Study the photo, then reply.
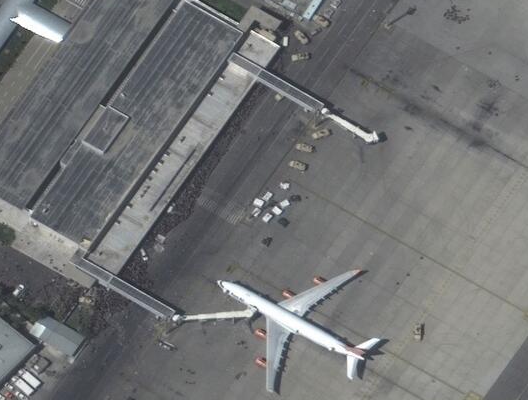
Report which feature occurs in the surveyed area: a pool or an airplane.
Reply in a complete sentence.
Of the two, only an airplane appears.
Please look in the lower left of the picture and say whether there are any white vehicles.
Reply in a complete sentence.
Yes, the scene does show a white vehicle in the lower left of the picture.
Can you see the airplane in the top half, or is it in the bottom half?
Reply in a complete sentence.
The airplane sits in the bottom half of the picture.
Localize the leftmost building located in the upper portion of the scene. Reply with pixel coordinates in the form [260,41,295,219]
[0,0,258,277]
